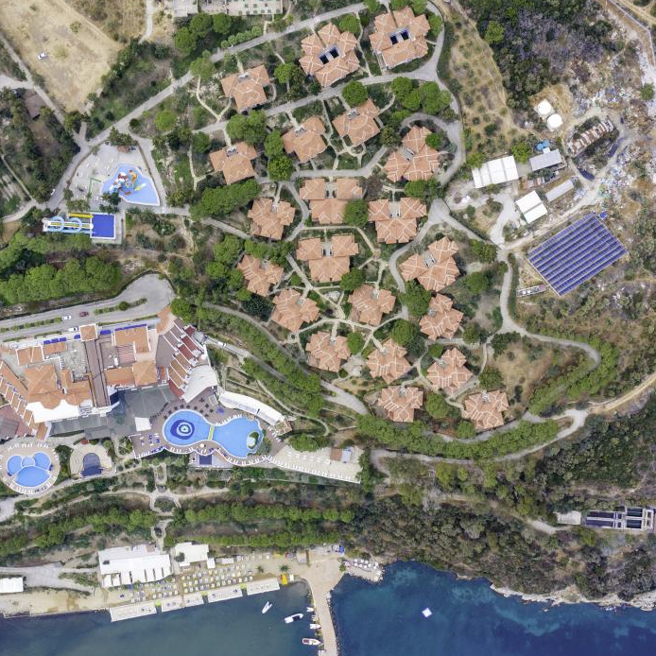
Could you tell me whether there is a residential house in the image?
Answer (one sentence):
Yes, a residential house is visible in the scene.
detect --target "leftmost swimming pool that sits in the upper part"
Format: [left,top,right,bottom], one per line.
[90,213,116,239]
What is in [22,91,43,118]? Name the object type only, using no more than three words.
shed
